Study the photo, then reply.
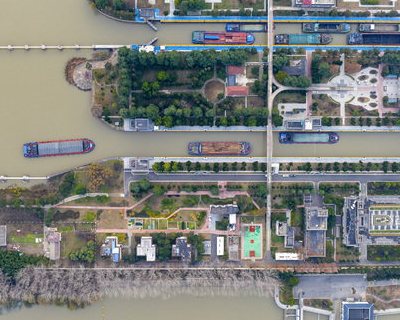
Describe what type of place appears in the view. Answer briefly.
port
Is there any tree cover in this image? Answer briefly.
Yes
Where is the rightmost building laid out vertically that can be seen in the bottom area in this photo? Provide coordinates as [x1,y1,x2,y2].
[340,196,364,248]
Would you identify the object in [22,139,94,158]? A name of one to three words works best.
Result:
ship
